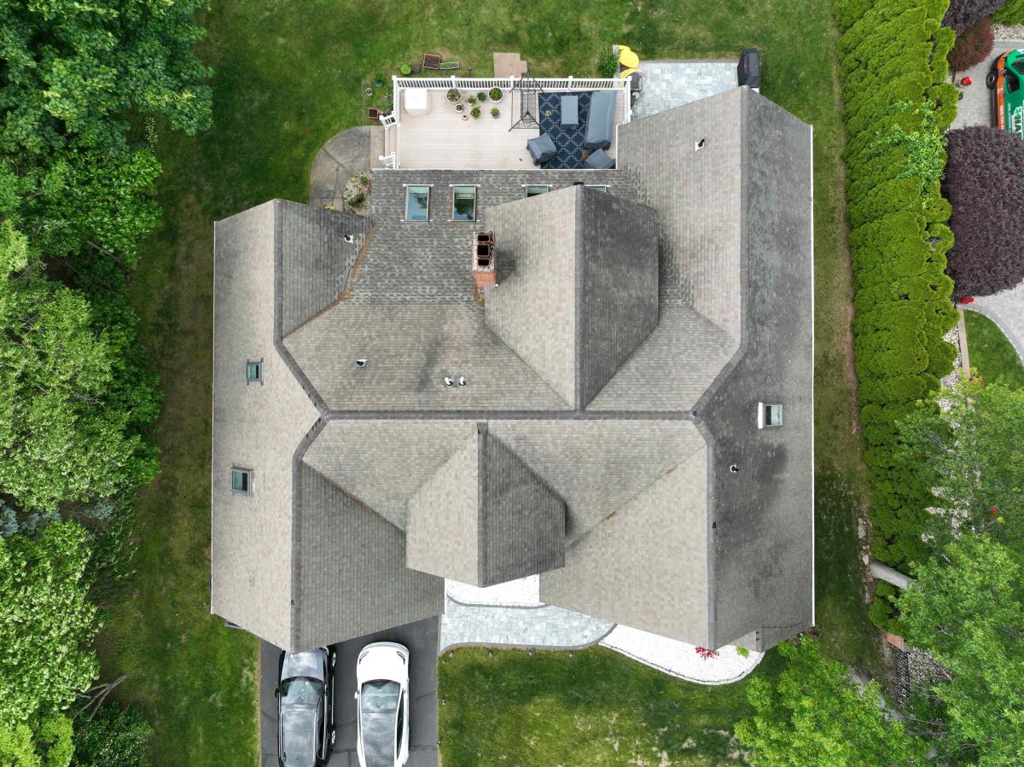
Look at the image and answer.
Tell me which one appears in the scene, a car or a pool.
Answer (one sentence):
The one in the frame is a car.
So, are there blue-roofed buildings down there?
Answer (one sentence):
No, I can see no blue-roofed building in this picture.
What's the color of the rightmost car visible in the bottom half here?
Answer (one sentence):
The rightmost car visible in the bottom half looks white in the image.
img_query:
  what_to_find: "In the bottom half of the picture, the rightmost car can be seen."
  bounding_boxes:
[352,637,411,767]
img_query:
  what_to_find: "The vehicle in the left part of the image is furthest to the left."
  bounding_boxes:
[271,642,336,767]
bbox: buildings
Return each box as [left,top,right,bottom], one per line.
[209,86,817,652]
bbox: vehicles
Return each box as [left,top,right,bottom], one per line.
[352,637,411,767]
[271,642,336,767]
[985,50,1024,168]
